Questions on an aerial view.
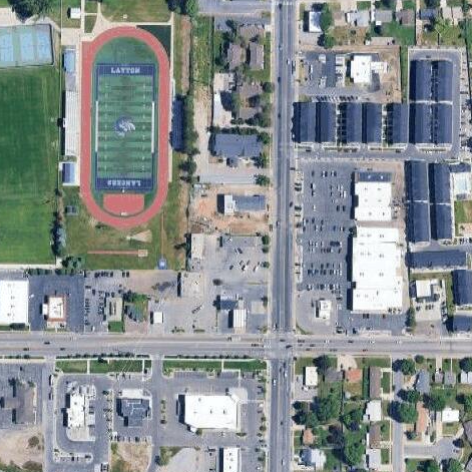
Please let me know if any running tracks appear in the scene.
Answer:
Yes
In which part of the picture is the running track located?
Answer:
top left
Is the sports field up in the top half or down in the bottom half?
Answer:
top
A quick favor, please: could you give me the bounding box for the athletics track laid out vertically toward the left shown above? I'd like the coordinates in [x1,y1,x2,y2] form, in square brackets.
[81,27,170,230]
